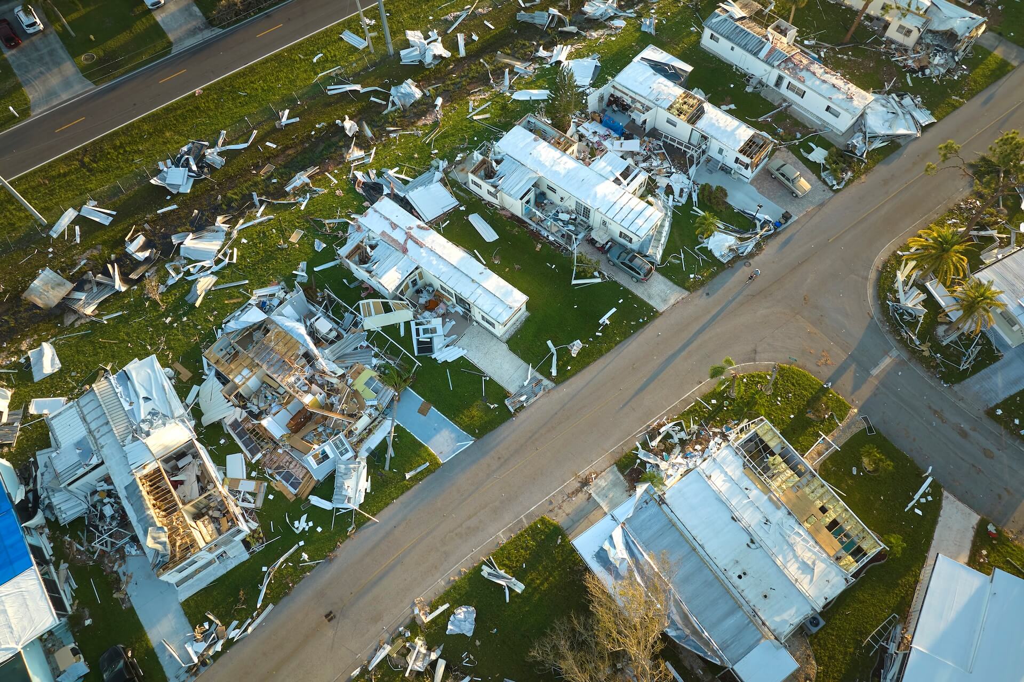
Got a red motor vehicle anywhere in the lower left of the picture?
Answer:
No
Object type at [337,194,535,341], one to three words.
house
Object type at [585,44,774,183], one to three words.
house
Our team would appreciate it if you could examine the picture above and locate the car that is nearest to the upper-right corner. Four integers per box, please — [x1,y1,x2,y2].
[764,159,813,200]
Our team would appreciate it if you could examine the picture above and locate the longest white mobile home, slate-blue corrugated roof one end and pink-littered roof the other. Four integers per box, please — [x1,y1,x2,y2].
[697,0,876,134]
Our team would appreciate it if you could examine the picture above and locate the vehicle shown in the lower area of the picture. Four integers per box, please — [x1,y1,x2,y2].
[93,633,152,682]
